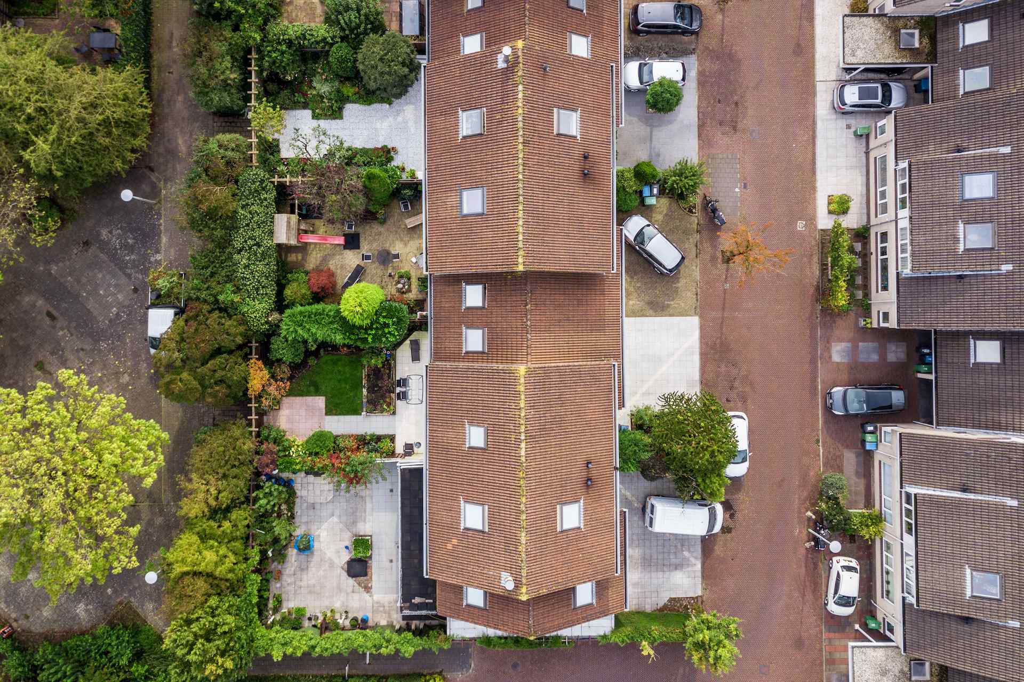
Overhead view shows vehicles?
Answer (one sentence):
Yes, a vehicle can be made out from above.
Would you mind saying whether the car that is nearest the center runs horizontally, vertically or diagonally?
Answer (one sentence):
The car that is nearest the center is laid out diagonally.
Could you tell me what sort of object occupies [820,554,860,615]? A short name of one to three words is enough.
car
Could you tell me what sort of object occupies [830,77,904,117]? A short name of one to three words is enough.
car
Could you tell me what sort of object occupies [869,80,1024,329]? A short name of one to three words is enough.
house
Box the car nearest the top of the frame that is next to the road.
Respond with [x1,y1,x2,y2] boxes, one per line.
[628,0,701,40]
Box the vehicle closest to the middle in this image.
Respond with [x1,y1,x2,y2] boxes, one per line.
[622,214,688,280]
